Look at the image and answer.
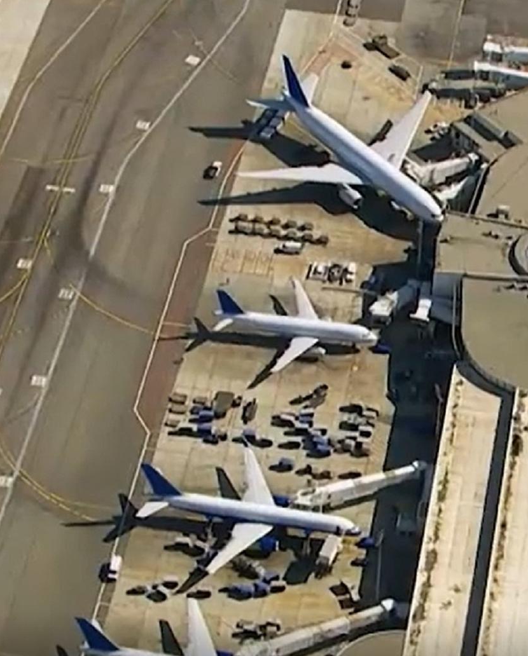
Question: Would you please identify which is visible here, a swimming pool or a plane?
plane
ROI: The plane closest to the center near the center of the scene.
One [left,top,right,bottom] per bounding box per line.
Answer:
[201,277,377,370]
